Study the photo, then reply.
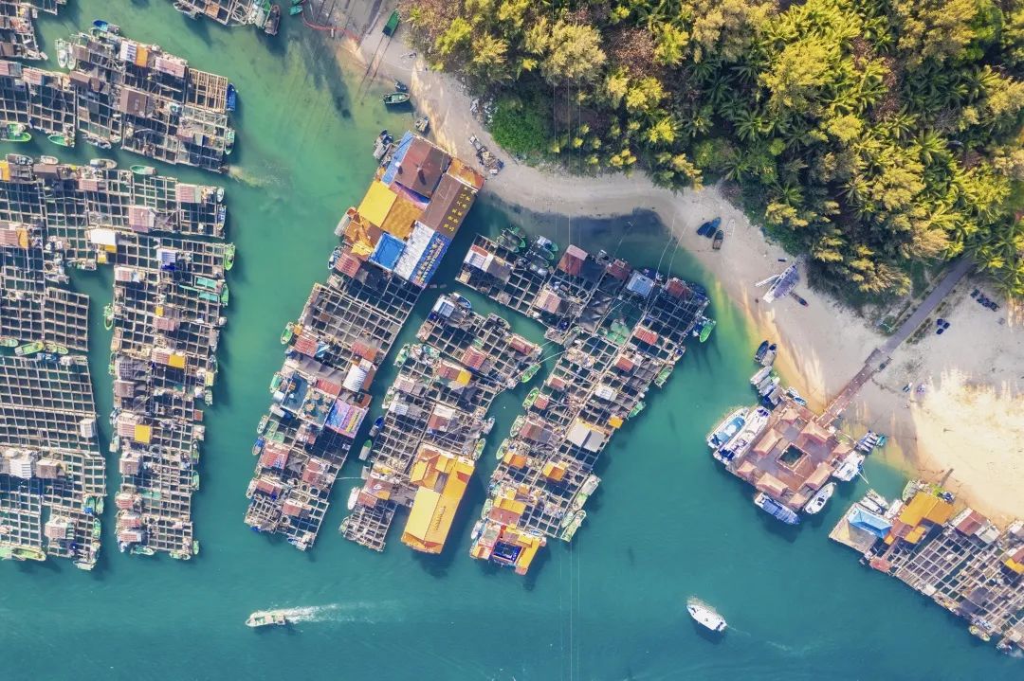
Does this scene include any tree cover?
Yes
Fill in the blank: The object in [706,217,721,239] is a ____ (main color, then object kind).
blue boat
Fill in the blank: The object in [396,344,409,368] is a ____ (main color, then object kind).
white boat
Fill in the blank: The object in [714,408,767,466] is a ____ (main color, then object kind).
white boat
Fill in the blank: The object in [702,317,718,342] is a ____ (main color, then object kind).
green boat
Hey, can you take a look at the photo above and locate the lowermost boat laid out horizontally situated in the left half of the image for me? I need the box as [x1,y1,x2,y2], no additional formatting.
[246,614,288,626]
